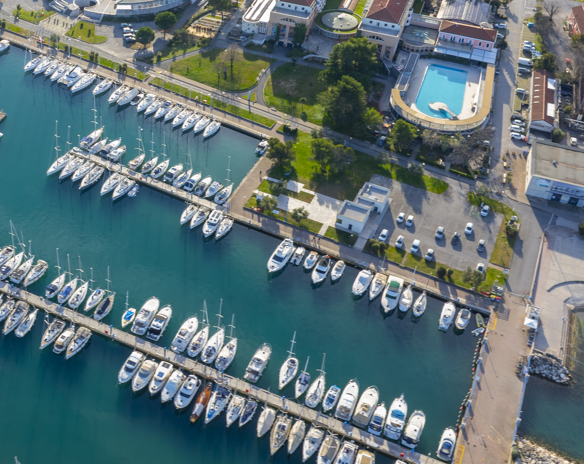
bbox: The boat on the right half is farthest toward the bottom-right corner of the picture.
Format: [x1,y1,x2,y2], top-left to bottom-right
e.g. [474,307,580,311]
[437,425,456,464]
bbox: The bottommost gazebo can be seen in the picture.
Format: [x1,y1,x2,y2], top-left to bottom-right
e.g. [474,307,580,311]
[522,315,544,336]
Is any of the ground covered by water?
Yes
